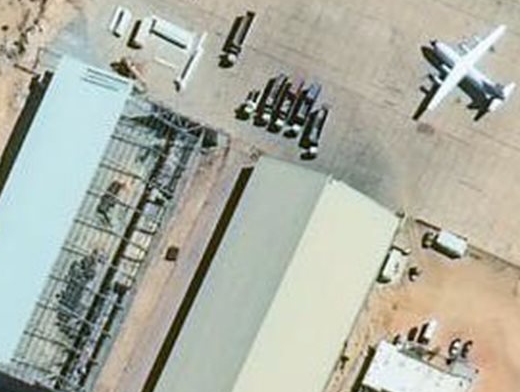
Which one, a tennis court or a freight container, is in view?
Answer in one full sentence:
The one in the frame is a freight container.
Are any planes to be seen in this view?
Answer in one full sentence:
Yes, a plane is visible in the scene.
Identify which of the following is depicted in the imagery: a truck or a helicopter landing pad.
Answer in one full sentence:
Visible in the photo is a truck.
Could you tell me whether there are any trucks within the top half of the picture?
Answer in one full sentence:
Yes, there is a truck within the top half of the picture.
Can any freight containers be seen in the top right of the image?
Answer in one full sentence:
No, there's no freight container to be seen in the top right of the image.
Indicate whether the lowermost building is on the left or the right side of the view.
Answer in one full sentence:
You can find the lowermost building on the right side of the picture.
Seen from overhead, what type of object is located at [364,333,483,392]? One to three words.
building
